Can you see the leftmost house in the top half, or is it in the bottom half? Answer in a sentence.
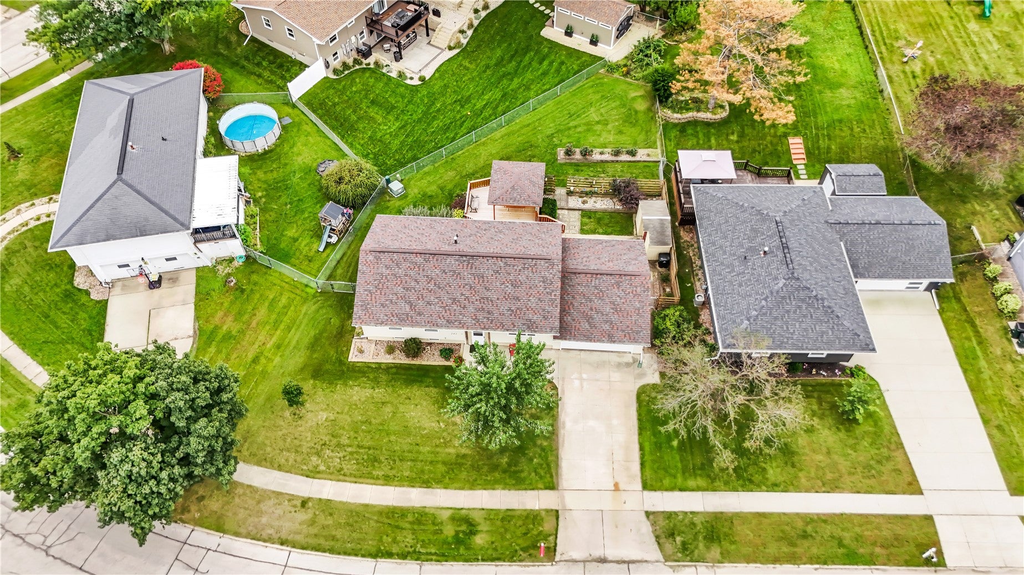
It is in the top half that the leftmost house appears.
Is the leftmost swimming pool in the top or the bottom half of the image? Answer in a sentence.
The leftmost swimming pool is in the top half of the image.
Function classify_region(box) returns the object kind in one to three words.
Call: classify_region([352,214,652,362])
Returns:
house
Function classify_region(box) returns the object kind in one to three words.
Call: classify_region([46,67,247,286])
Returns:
house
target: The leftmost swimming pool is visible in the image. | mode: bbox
[219,101,284,153]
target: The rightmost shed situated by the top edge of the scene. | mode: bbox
[552,0,637,49]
